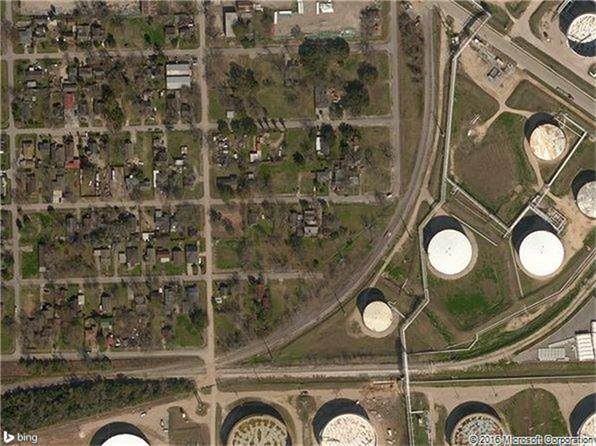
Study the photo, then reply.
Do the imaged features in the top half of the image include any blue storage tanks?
No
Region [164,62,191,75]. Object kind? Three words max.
building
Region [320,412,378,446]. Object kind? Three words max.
storage tank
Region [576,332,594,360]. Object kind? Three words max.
building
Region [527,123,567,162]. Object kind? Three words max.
storage tank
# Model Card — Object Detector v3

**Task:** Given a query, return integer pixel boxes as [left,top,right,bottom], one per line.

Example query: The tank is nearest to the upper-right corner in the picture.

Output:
[567,10,596,62]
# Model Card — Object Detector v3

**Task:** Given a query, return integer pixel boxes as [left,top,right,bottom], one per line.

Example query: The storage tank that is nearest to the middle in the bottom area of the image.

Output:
[363,301,395,332]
